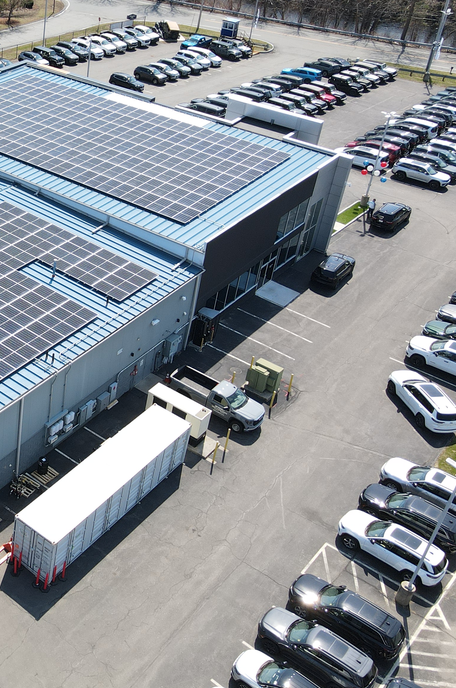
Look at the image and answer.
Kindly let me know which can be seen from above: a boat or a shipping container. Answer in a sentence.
The one in the frame is a shipping container.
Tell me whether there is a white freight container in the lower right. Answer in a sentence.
No, in the lower right there is no white freight container.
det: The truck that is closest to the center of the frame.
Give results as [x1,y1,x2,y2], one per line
[167,367,268,435]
